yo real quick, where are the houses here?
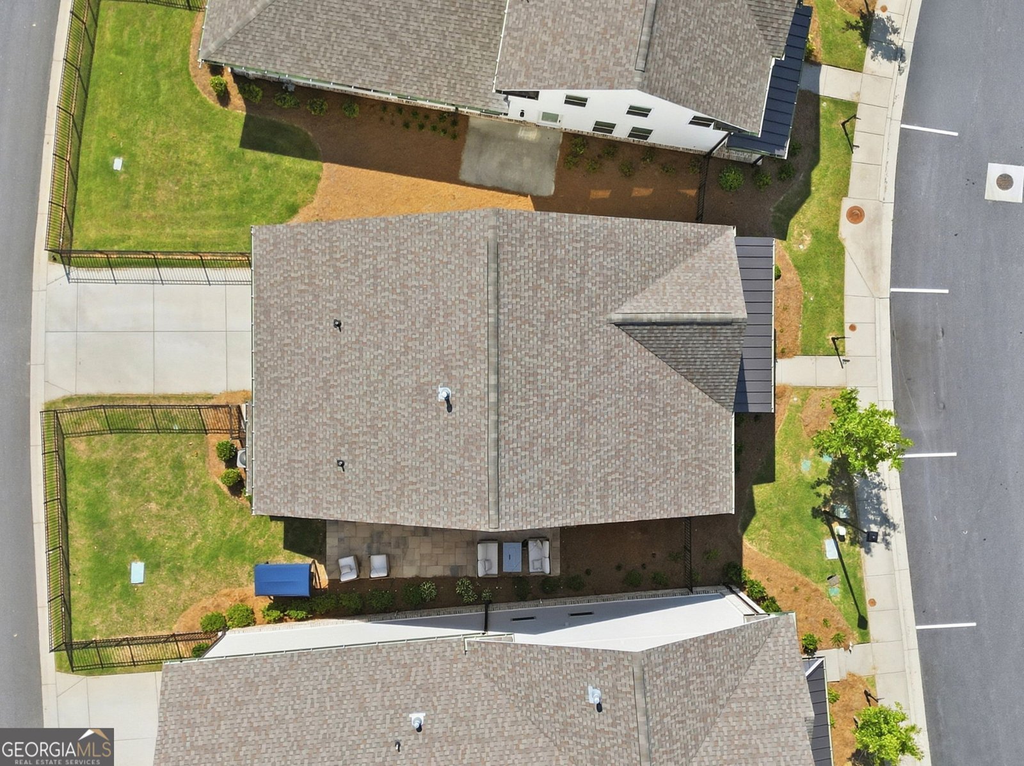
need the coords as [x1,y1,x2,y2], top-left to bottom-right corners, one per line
[197,0,814,170]
[154,576,835,766]
[244,208,776,530]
